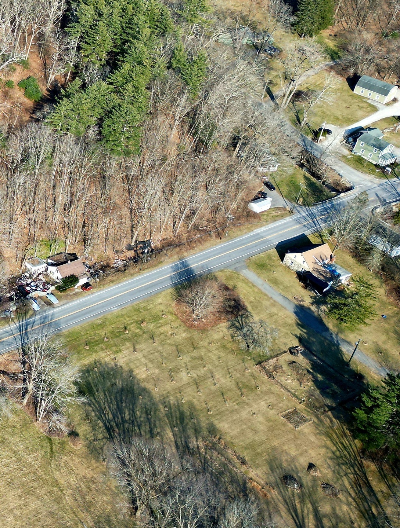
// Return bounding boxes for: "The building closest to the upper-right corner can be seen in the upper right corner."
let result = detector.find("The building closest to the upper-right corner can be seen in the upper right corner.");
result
[354,77,398,103]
